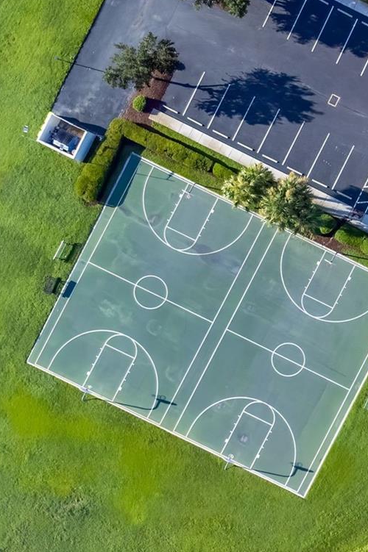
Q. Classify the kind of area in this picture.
sports ground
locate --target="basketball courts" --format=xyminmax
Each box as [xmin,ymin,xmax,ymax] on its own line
[164,222,368,499]
[26,151,271,431]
